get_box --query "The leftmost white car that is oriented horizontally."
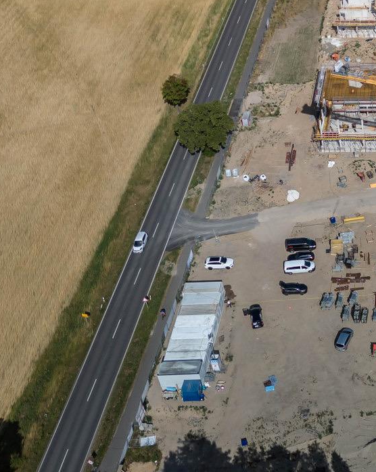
[205,256,233,269]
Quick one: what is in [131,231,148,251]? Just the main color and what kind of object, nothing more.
white car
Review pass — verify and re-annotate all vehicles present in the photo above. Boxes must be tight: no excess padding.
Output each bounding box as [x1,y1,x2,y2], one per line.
[131,231,148,251]
[285,237,316,252]
[205,256,233,269]
[245,305,263,326]
[287,250,314,261]
[283,258,314,273]
[332,328,354,351]
[277,280,307,294]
